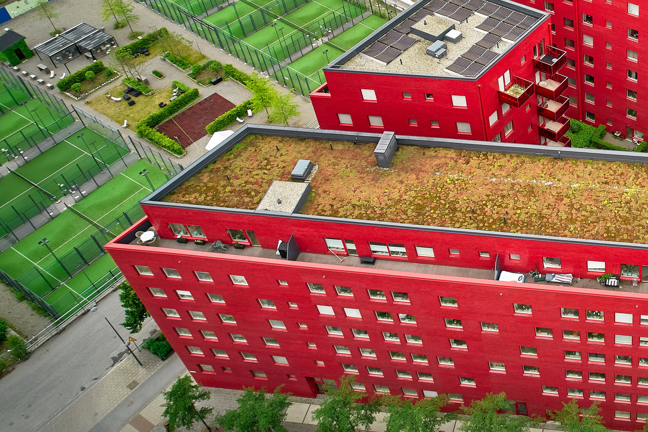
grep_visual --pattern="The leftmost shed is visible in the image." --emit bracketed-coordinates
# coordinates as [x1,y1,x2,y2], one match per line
[0,31,31,67]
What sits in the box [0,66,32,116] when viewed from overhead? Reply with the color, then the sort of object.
green sports court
